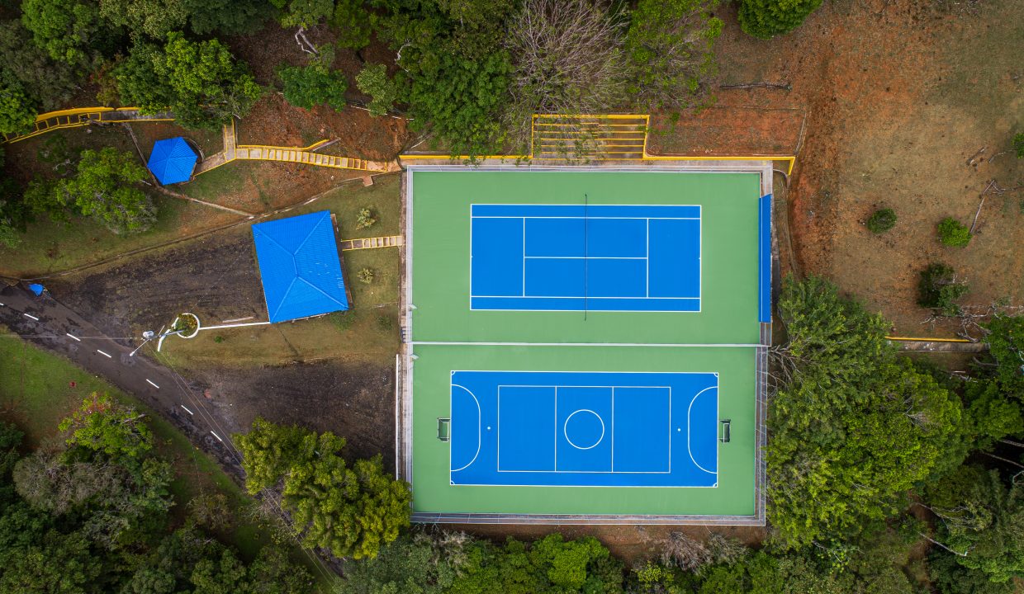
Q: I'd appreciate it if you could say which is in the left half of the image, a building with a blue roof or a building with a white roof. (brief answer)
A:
building with a blue roof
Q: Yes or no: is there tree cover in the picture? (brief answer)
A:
Yes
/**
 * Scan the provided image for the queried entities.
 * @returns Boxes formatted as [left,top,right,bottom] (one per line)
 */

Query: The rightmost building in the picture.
[251,209,354,324]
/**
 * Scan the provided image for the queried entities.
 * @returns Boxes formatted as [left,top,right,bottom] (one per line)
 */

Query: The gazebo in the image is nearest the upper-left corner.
[147,136,207,188]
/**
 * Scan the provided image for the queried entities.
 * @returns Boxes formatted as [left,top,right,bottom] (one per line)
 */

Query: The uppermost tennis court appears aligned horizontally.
[412,172,760,346]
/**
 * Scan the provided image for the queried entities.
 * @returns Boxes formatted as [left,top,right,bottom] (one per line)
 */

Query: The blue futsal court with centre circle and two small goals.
[412,344,755,516]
